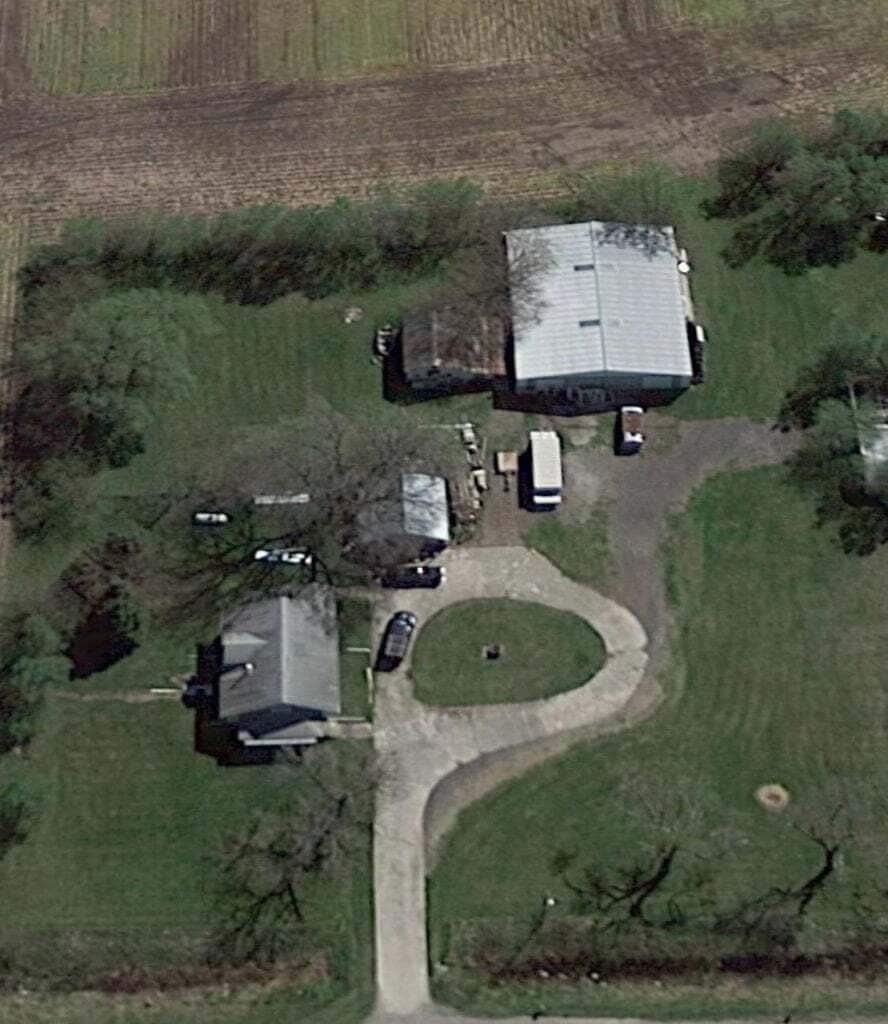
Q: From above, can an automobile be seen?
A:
Yes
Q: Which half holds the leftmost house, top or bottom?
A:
bottom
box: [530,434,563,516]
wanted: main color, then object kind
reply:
white truck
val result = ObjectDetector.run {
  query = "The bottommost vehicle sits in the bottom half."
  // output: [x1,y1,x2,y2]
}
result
[382,614,415,668]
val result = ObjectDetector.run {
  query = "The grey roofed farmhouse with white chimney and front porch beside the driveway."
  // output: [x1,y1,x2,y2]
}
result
[185,595,340,750]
